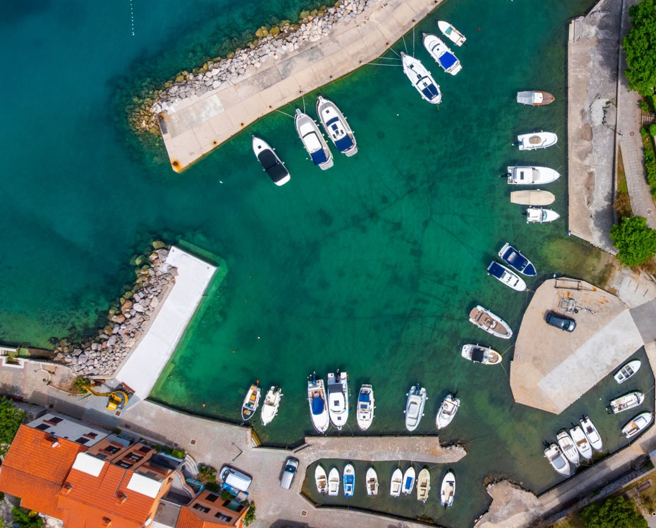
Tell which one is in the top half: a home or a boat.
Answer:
boat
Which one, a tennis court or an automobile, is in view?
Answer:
automobile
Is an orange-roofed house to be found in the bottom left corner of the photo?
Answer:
Yes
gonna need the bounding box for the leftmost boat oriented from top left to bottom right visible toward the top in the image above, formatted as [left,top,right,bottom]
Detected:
[242,124,290,189]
